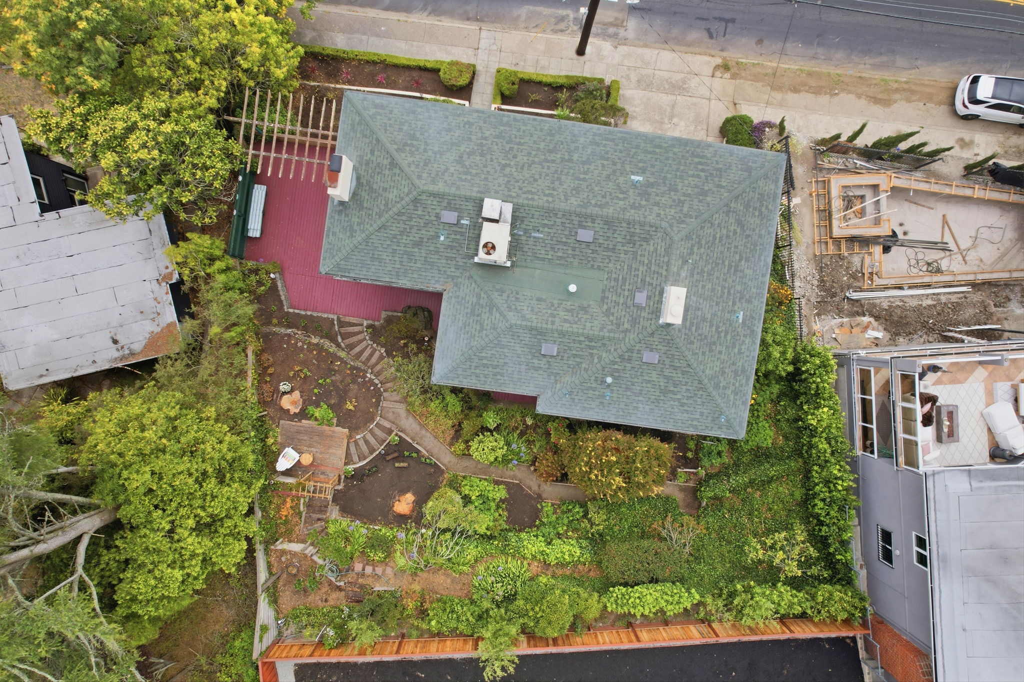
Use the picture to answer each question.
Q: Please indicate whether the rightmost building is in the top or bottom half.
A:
bottom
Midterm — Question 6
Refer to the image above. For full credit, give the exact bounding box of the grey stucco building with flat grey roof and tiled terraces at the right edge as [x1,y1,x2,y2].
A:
[866,456,1024,682]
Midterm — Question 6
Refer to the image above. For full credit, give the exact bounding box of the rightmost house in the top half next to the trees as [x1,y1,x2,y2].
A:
[316,87,789,442]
